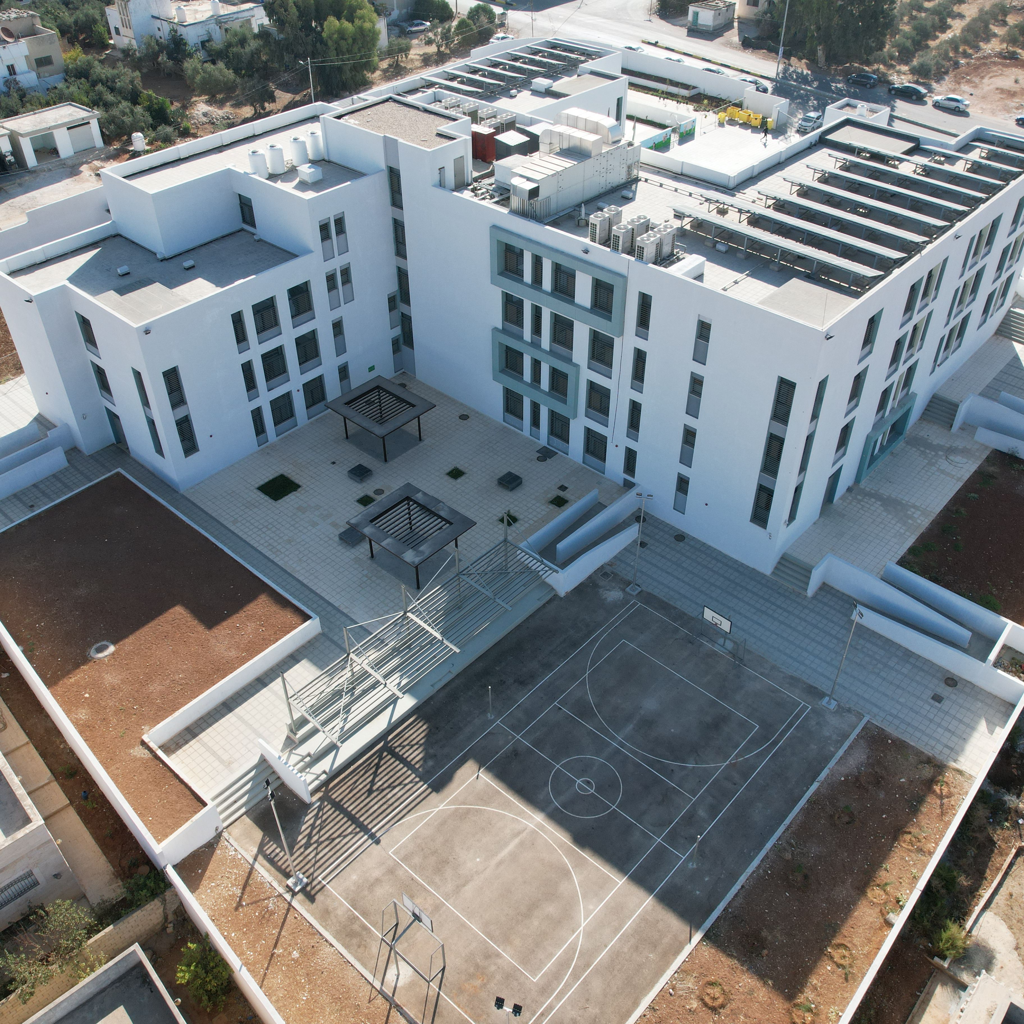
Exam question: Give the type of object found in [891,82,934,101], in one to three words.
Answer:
car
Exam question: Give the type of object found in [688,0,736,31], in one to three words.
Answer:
building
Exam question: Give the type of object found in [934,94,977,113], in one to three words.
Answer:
car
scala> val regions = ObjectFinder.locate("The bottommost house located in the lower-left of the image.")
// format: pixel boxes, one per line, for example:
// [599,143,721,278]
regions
[21,943,185,1024]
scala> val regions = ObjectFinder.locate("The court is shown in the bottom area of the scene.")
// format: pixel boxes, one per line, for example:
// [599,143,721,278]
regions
[222,564,866,1024]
